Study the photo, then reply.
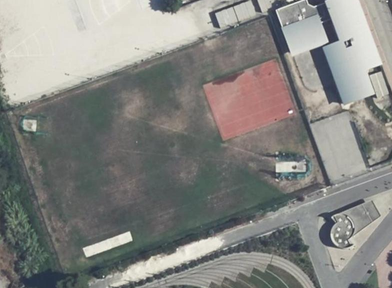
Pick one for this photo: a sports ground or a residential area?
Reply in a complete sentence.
It's a sports ground.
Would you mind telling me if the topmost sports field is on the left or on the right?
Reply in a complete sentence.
The topmost sports field is on the left side of the image.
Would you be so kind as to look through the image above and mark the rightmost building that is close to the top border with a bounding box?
[323,0,382,106]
